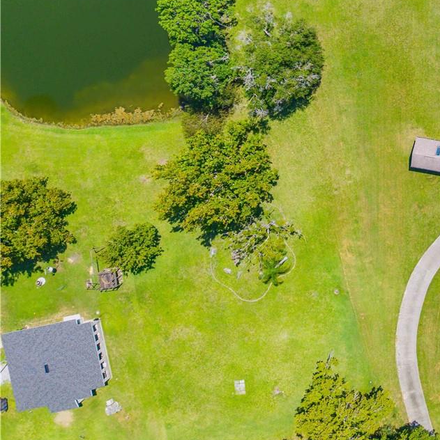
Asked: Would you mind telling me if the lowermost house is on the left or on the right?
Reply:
left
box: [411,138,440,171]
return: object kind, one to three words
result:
shed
